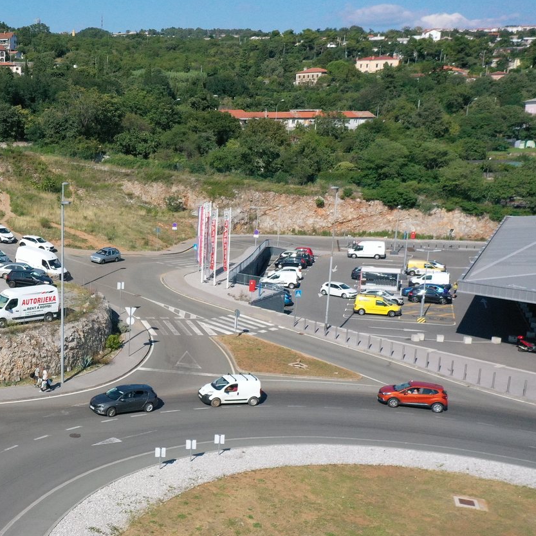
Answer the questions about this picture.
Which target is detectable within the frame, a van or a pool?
van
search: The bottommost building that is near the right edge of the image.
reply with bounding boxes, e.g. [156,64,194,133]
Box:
[454,215,536,311]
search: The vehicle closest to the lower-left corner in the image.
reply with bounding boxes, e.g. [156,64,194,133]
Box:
[91,384,161,416]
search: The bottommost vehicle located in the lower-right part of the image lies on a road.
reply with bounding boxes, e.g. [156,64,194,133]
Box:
[379,381,452,412]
